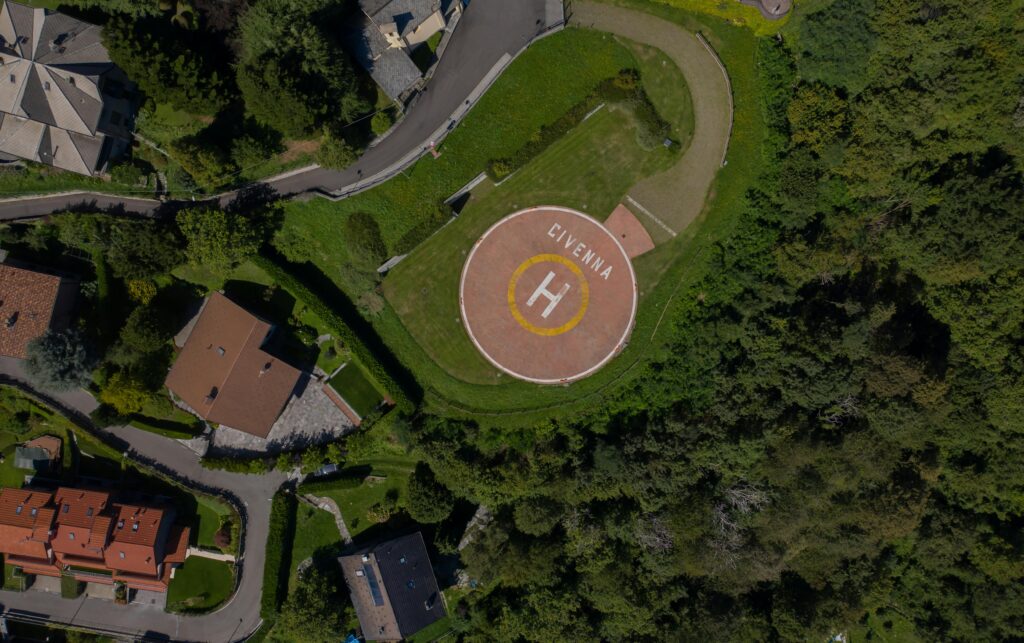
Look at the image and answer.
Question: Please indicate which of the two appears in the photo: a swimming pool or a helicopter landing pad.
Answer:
helicopter landing pad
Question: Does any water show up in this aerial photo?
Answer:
No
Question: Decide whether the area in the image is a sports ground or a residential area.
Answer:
residential area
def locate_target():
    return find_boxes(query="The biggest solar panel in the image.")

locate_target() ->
[364,564,384,606]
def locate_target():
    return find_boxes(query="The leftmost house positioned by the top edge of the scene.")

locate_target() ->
[0,2,136,177]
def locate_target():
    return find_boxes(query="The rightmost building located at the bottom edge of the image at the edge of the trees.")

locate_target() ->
[338,527,447,640]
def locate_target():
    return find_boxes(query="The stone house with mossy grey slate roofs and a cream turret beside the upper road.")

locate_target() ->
[358,0,444,120]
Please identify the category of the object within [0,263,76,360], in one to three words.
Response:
house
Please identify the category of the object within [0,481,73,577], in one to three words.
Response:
house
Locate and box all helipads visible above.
[458,204,654,385]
